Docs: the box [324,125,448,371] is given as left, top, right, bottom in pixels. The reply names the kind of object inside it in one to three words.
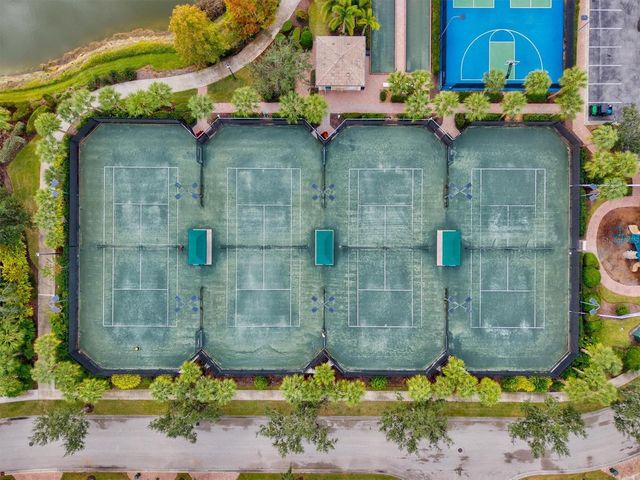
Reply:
tennis court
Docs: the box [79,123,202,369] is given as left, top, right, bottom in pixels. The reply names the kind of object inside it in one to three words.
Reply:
tennis court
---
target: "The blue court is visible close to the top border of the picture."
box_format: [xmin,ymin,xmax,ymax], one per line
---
[446,0,562,85]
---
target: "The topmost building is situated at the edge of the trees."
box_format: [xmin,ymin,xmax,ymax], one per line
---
[315,36,366,89]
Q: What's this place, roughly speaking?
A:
sports ground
